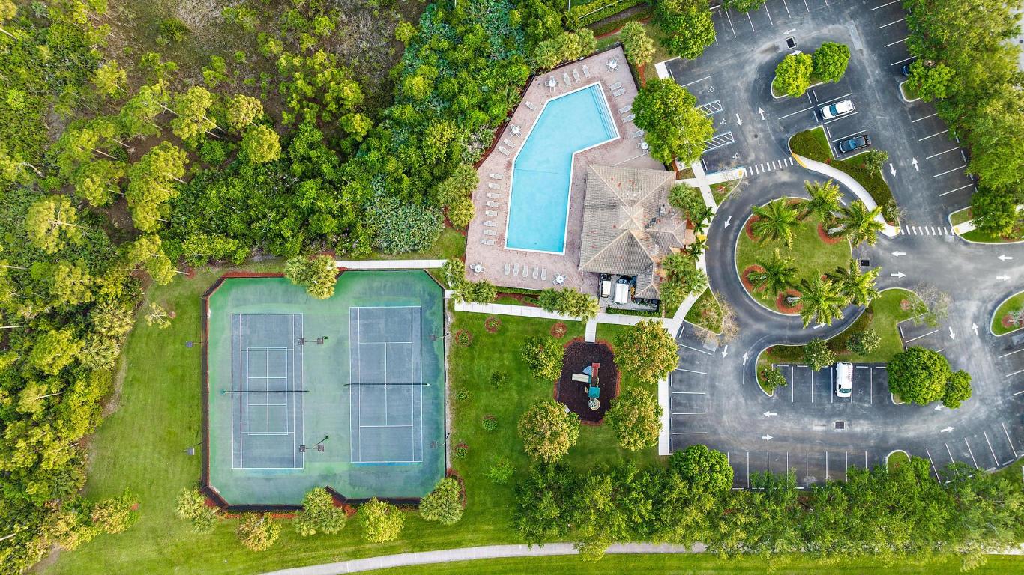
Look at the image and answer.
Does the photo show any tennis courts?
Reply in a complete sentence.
Yes, I can see a tennis court in this picture.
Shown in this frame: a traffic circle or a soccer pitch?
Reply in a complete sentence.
Looking from above, you can make out a traffic circle.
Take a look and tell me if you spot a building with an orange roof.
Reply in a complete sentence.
No, no building with an orange roof is visible in the scene.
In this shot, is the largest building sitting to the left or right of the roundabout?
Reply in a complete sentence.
Looking at the photo, the largest building lies to the left of the roundabout.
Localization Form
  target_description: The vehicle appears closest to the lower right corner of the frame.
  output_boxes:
[833,360,851,395]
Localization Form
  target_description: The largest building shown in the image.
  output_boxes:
[580,164,689,299]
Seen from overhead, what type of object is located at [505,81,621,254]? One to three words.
swimming pool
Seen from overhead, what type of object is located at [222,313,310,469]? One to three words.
tennis court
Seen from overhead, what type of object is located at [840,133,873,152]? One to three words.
car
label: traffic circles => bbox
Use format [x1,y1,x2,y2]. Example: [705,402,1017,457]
[709,171,878,341]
